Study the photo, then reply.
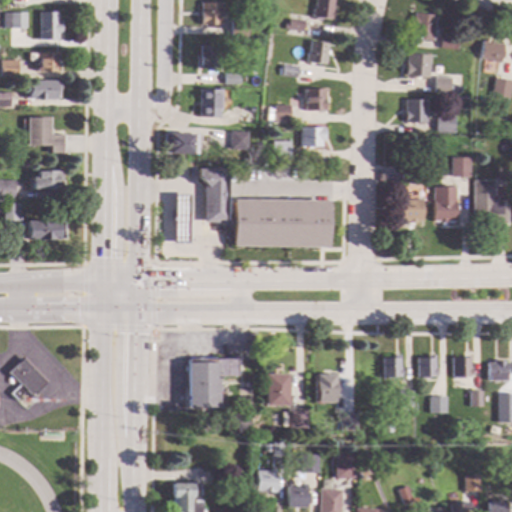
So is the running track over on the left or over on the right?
left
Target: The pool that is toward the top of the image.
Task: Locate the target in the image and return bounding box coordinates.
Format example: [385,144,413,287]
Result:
[291,46,305,60]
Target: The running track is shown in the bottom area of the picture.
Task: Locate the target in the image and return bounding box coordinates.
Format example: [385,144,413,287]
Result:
[0,446,58,512]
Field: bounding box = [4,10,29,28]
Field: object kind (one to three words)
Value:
building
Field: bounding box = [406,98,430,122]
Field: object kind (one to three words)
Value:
house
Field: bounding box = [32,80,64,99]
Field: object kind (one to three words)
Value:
house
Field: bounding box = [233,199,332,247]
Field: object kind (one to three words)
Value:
building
